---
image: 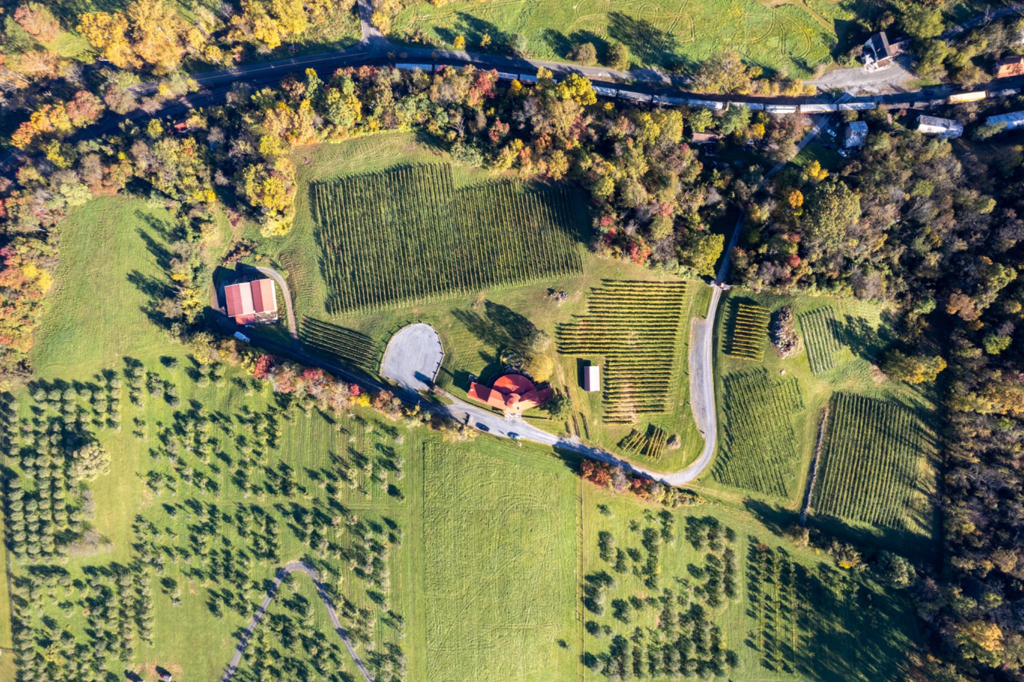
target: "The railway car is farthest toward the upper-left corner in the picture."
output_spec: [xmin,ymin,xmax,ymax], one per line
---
[395,61,434,74]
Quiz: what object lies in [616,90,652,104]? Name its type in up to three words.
rail car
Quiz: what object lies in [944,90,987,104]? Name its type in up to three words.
rail car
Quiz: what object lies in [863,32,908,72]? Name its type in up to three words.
house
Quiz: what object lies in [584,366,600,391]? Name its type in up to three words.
shed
